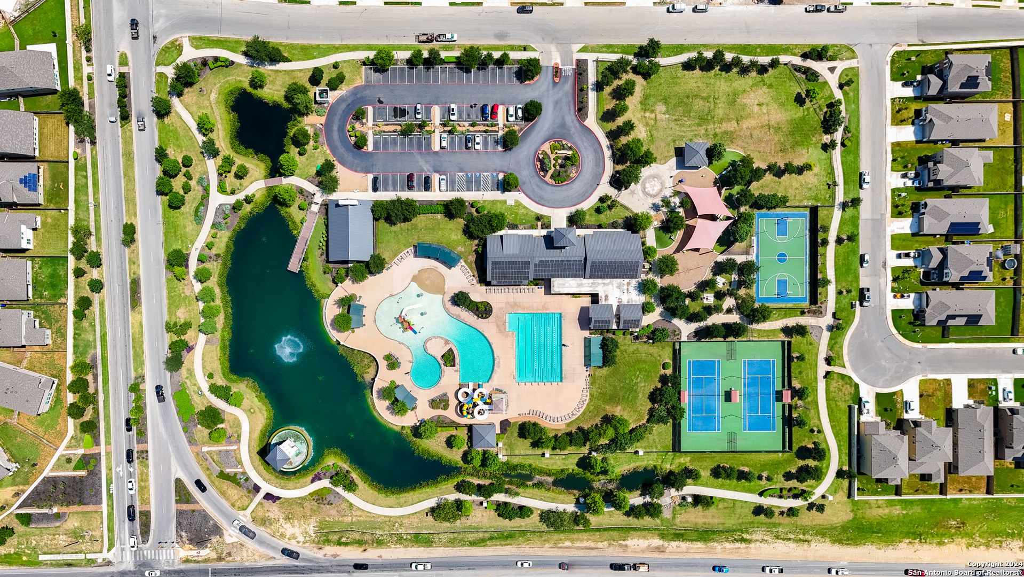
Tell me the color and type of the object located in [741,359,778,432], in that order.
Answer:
blue tennis court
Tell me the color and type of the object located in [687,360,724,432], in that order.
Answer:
blue tennis court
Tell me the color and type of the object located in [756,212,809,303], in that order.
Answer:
green basketball court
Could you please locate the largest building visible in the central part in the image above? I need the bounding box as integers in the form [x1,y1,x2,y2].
[486,228,645,329]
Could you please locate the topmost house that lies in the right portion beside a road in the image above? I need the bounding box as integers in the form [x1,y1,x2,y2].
[922,55,991,97]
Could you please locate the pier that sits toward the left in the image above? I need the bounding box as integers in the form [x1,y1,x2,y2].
[287,209,318,273]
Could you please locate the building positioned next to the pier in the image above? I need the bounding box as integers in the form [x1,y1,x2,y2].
[328,197,376,262]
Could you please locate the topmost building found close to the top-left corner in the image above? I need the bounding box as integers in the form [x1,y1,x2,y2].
[0,51,62,94]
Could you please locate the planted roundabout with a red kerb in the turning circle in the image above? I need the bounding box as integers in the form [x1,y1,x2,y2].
[535,139,581,185]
